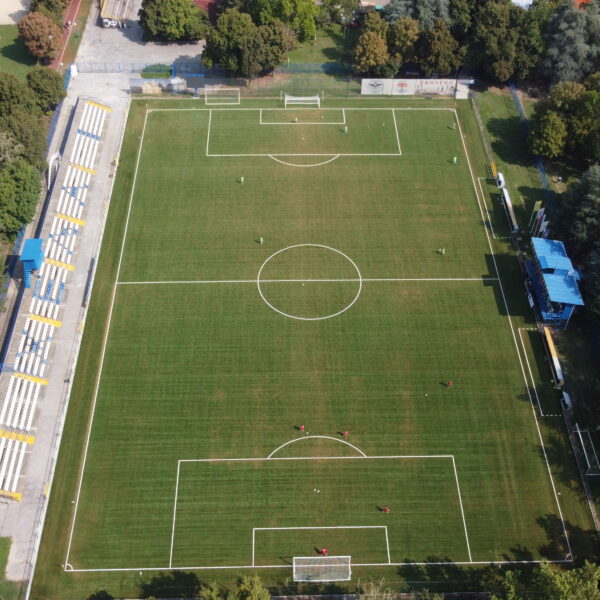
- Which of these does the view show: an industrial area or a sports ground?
sports ground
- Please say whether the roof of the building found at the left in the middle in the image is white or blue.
blue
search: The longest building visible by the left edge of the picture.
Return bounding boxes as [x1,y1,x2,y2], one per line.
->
[19,236,45,294]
